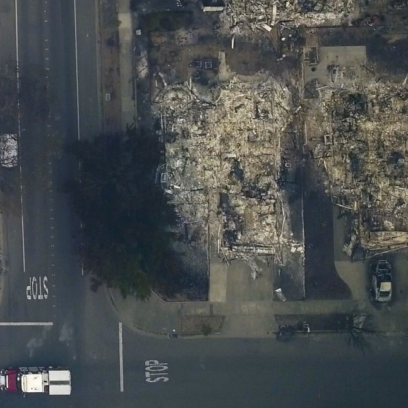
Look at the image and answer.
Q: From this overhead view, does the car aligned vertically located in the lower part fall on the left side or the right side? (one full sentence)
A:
You can find the car aligned vertically located in the lower part on the right side of the picture.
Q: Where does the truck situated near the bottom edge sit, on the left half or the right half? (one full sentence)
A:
The truck situated near the bottom edge sits on the left side.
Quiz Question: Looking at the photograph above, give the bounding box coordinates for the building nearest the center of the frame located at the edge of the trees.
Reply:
[162,76,300,255]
